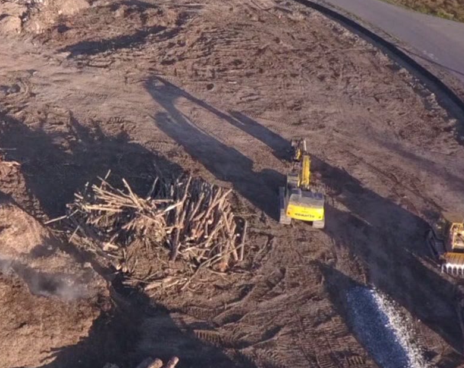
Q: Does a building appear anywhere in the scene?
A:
No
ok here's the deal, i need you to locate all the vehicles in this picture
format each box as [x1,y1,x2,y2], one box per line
[279,123,331,227]
[434,210,464,280]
